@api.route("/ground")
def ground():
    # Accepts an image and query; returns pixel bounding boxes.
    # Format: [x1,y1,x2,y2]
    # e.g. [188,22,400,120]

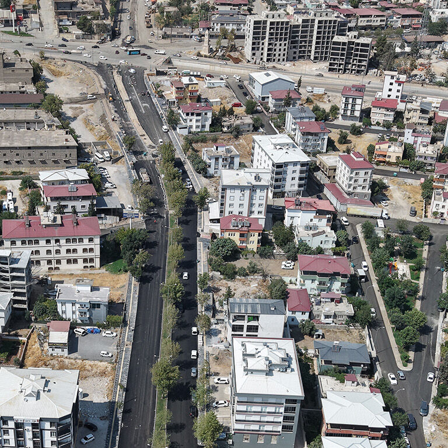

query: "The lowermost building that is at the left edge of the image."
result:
[0,369,82,448]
